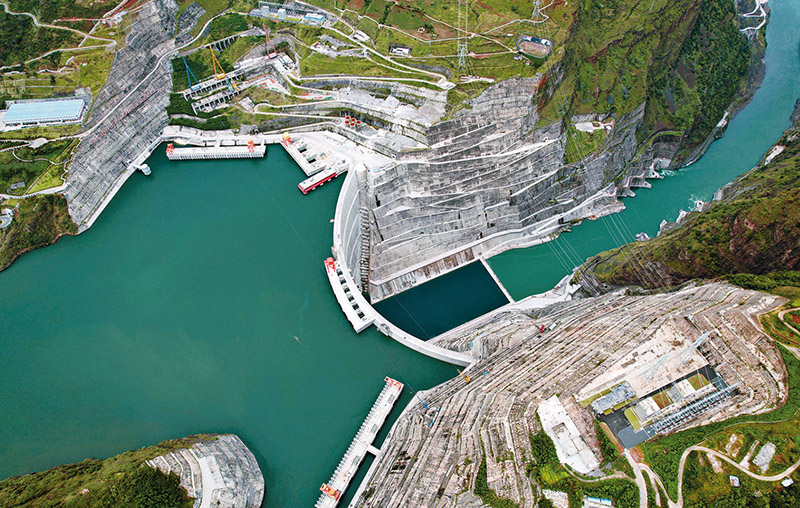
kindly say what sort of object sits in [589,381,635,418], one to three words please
building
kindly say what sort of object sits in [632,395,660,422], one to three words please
building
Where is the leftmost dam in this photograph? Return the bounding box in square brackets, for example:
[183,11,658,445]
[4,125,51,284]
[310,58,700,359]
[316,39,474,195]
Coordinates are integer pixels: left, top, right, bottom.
[318,166,484,370]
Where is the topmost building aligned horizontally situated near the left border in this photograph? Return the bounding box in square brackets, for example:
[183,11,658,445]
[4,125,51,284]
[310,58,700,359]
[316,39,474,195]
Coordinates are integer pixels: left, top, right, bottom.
[1,94,91,129]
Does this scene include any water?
Yes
